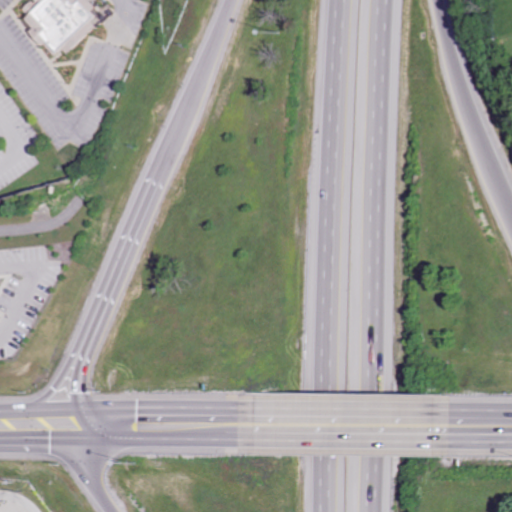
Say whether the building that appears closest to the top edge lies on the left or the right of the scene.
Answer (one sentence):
The building that appears closest to the top edge is on the left side of the image.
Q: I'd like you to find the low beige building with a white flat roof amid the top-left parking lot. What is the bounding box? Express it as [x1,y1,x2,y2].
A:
[22,0,104,57]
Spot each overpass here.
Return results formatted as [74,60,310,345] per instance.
[238,392,448,458]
